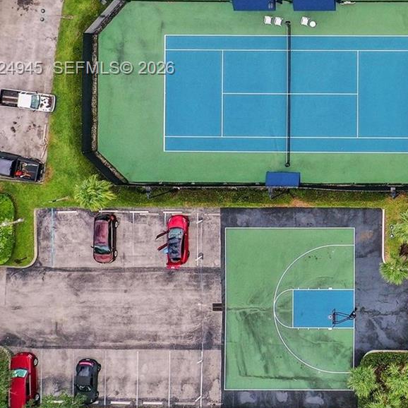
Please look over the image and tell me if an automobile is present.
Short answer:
Yes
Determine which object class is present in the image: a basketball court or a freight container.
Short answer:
basketball court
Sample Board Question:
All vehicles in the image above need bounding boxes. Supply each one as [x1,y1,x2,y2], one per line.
[72,358,98,404]
[87,214,116,264]
[0,153,44,184]
[8,357,36,408]
[0,89,54,116]
[153,215,190,273]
